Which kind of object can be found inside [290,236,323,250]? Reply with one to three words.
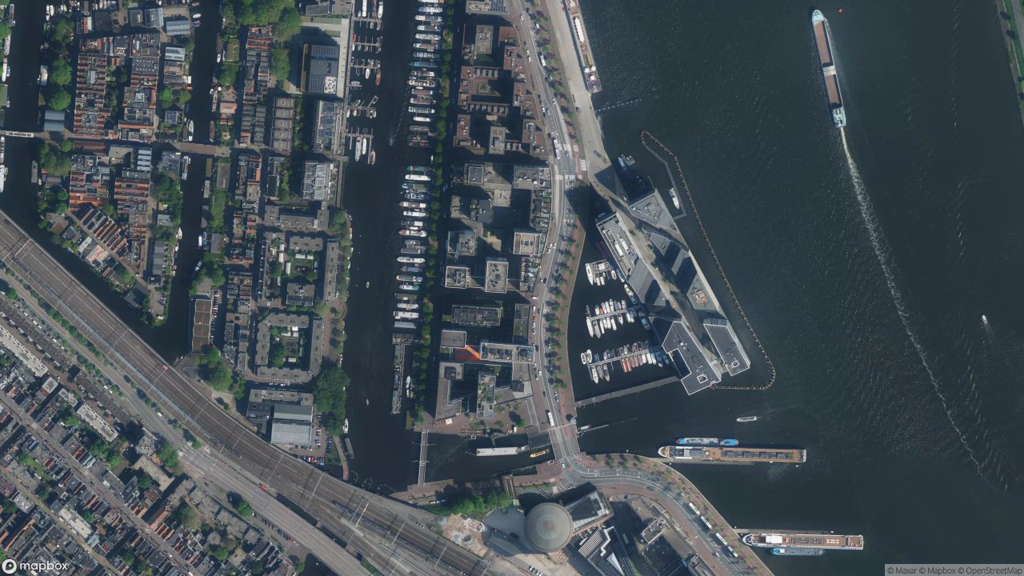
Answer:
building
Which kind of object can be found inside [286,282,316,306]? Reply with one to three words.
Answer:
building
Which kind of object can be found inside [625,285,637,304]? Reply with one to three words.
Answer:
boat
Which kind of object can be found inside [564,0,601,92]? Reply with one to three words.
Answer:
ship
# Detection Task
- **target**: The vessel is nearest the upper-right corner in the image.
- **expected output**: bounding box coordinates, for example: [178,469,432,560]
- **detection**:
[811,9,845,128]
